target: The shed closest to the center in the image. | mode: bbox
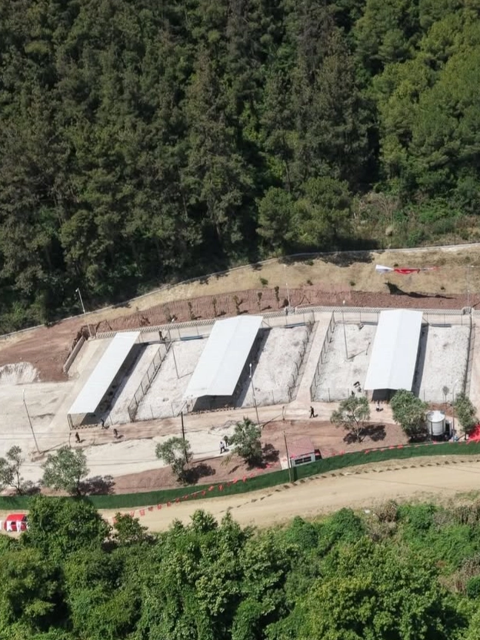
[182,314,263,417]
